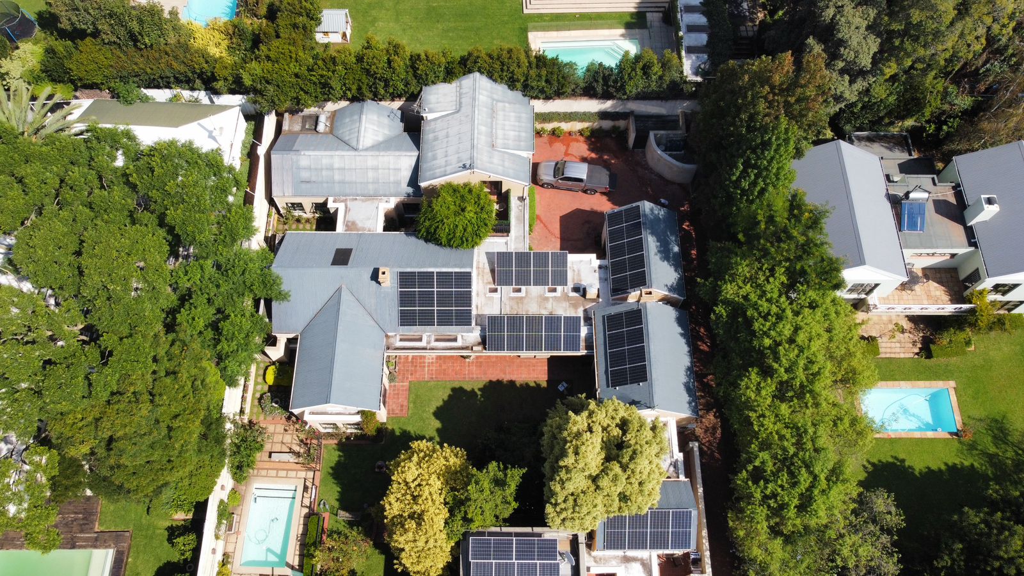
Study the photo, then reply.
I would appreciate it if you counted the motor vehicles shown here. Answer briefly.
1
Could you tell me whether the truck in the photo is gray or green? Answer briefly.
gray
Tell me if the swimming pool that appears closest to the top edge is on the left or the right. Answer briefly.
left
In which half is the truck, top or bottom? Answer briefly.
top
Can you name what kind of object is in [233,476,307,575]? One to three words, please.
swimming pool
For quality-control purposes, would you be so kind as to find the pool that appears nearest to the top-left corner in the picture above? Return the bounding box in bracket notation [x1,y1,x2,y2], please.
[176,0,239,24]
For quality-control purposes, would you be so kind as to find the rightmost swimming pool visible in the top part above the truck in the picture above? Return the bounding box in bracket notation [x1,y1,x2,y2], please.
[536,36,644,92]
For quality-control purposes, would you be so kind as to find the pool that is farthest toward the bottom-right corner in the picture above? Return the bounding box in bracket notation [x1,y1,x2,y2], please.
[853,380,970,441]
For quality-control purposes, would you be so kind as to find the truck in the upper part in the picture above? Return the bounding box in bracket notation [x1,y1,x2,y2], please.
[534,157,619,196]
